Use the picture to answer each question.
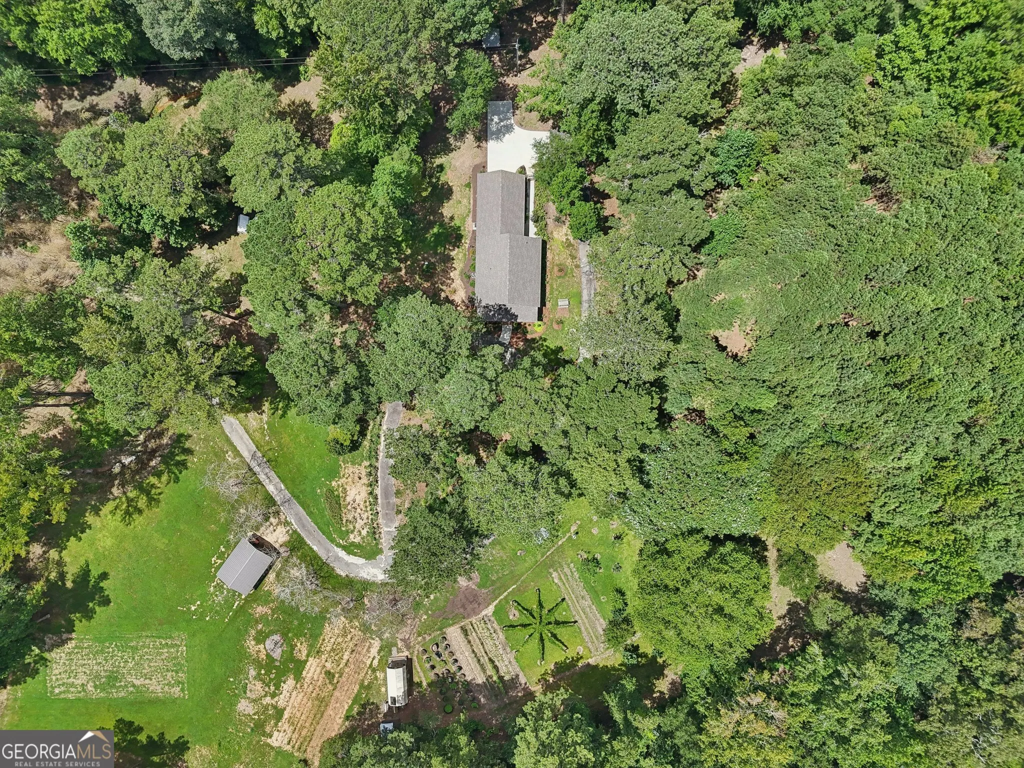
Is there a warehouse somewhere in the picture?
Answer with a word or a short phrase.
No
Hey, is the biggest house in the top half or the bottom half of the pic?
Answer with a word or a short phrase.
top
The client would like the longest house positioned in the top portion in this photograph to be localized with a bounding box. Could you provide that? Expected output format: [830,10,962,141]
[470,169,542,323]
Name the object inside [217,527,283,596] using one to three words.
shed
